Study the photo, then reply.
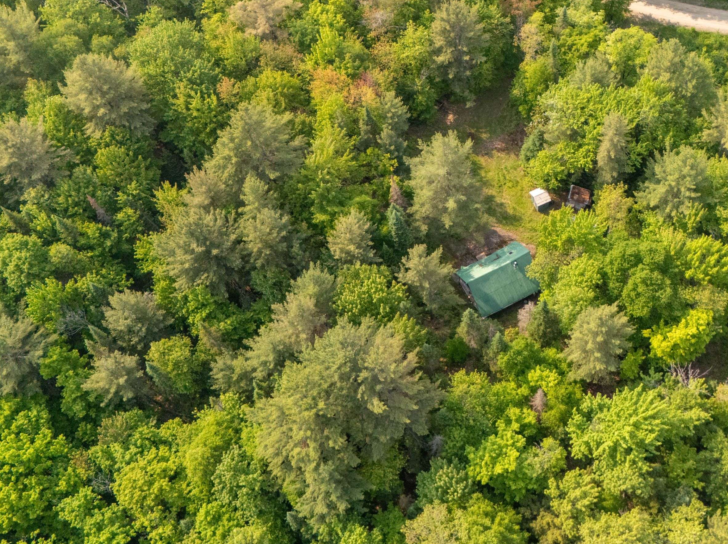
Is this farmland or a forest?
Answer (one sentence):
The area seen from above is a forest.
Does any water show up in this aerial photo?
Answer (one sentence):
No, the scene doesn't show any water.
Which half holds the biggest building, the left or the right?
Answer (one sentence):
The biggest building is on the right side of the image.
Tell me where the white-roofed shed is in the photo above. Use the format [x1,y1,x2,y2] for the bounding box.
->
[529,188,551,211]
